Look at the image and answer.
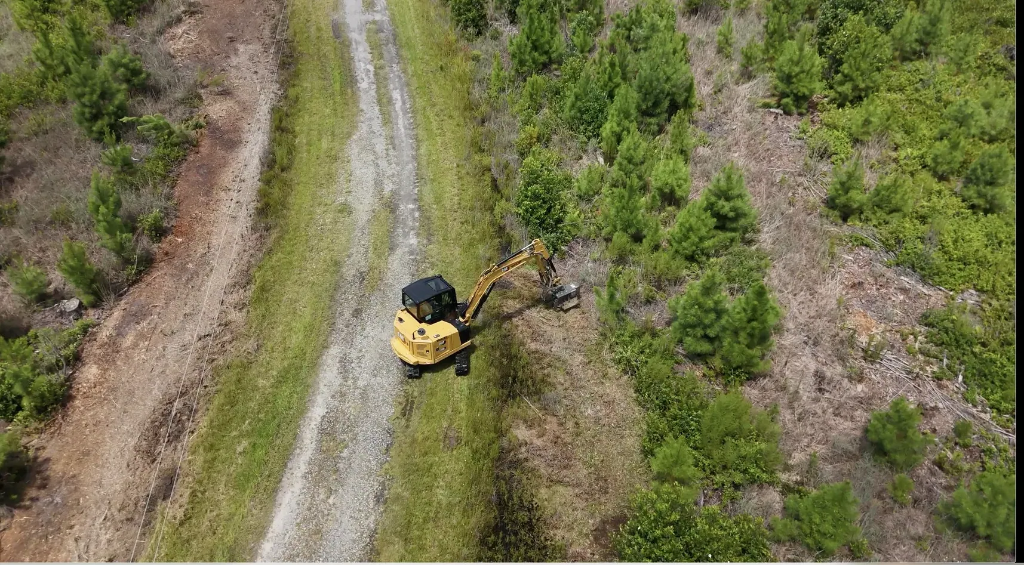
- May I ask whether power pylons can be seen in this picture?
No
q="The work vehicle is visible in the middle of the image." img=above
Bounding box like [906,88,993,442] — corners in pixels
[391,237,583,376]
